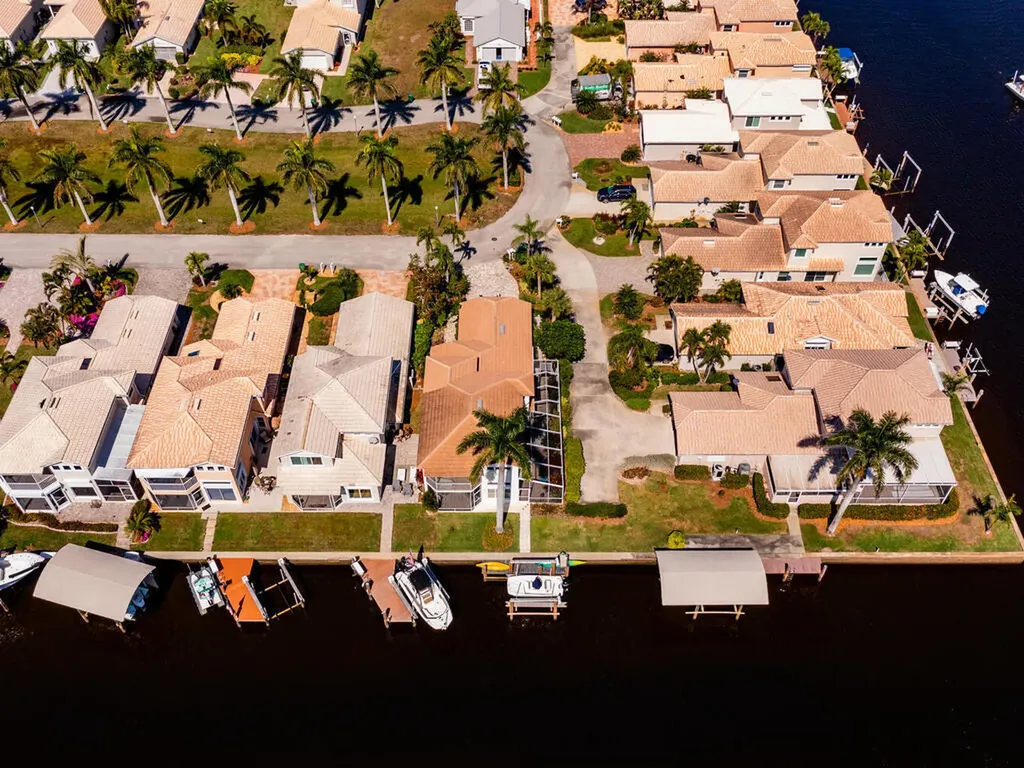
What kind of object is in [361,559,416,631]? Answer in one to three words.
pier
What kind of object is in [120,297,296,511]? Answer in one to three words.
house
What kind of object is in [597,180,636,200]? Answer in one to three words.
car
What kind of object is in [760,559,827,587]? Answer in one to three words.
pier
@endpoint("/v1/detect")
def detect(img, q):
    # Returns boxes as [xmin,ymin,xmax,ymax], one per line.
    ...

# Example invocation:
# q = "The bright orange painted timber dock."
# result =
[218,559,270,632]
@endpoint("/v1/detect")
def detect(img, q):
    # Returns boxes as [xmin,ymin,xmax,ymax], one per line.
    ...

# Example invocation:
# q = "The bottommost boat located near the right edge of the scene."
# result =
[934,265,993,324]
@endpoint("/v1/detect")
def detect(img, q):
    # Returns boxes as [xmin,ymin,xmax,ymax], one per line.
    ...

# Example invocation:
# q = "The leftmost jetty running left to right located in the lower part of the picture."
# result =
[480,563,581,590]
